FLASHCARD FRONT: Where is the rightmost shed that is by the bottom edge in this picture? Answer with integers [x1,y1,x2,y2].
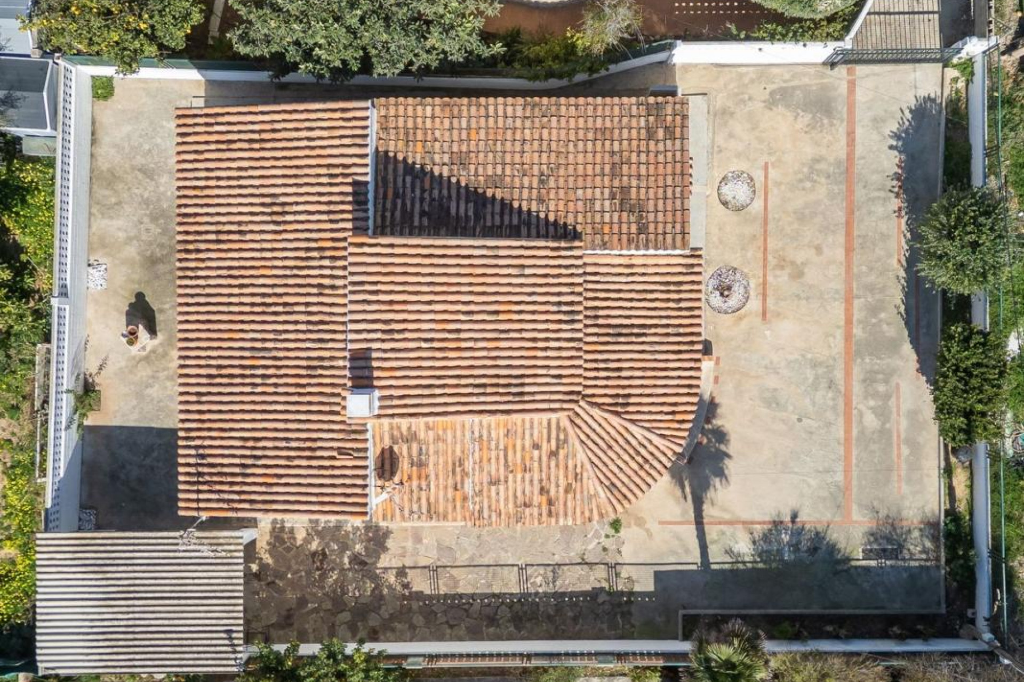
[35,531,245,674]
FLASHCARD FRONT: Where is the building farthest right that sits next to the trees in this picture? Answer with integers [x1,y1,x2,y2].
[172,87,706,528]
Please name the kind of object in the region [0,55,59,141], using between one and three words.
shed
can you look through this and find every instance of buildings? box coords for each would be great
[35,531,245,674]
[172,87,706,528]
[0,55,59,141]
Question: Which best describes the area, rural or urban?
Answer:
urban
